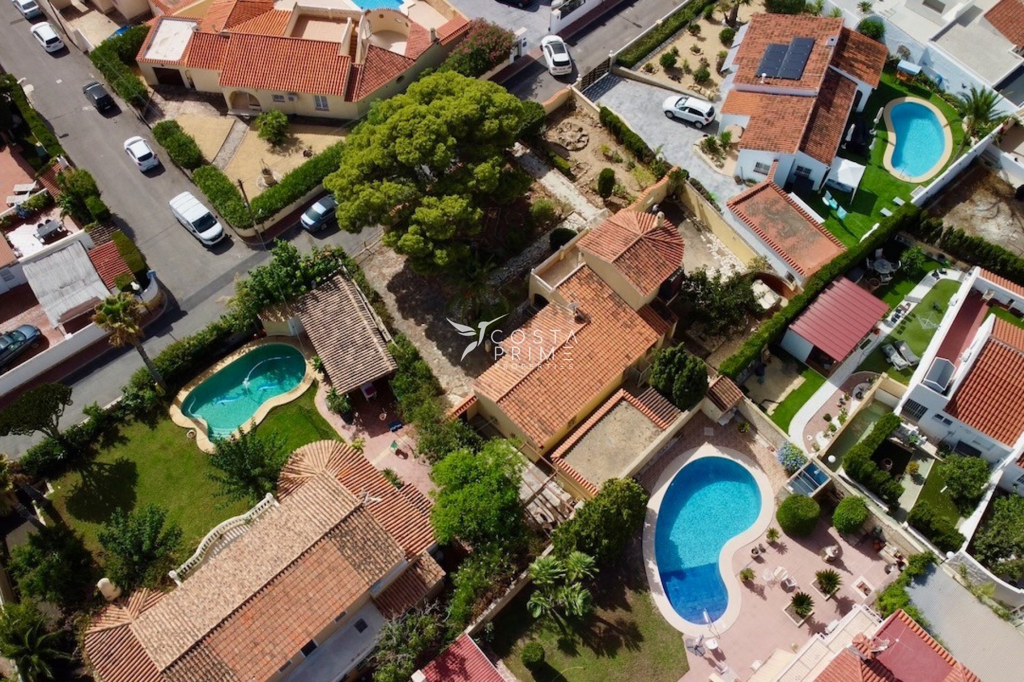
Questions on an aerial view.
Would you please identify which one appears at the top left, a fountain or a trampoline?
fountain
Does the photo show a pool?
Yes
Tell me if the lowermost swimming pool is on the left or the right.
right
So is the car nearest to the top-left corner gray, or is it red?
gray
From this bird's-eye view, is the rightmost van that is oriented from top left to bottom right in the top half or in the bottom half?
top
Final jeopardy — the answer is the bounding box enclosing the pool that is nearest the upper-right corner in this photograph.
[884,97,953,182]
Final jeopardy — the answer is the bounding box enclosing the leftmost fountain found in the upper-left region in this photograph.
[251,164,286,193]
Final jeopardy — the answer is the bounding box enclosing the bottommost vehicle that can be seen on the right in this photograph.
[655,91,723,131]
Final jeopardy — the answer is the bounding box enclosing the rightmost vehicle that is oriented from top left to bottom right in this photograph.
[164,181,224,247]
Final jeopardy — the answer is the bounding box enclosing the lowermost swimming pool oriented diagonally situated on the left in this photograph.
[172,336,316,452]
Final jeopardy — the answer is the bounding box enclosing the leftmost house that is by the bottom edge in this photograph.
[83,438,446,682]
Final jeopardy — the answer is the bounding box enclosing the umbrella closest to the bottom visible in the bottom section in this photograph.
[685,632,709,658]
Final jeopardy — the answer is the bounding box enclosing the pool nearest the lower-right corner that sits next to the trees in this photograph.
[641,444,776,639]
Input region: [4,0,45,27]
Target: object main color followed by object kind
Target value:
gray car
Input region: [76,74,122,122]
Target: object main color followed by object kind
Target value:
gray car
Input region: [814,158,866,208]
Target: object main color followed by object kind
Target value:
white gazebo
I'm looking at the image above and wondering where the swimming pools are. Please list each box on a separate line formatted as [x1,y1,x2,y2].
[641,444,776,639]
[172,336,316,452]
[884,97,953,182]
[346,0,410,12]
